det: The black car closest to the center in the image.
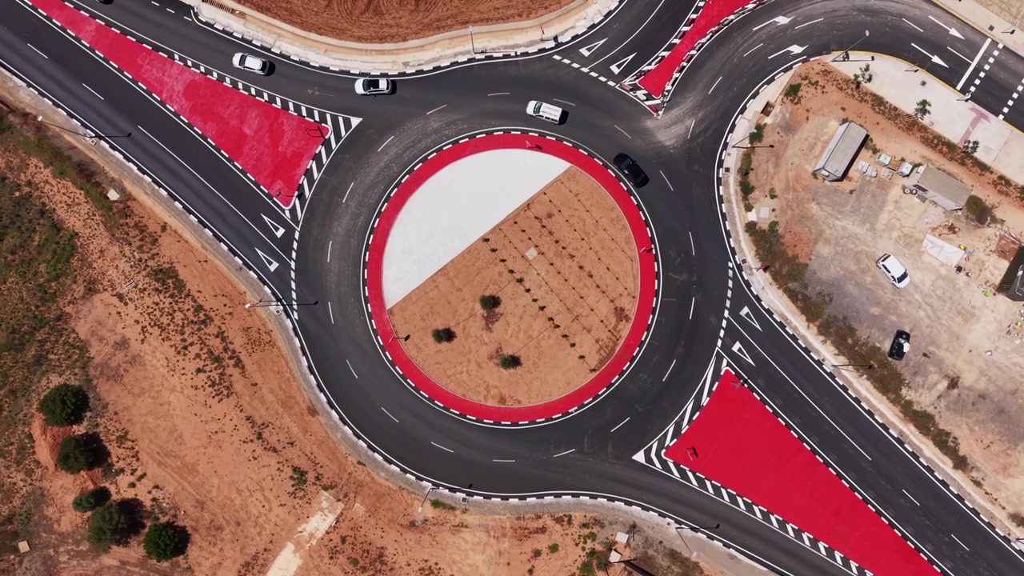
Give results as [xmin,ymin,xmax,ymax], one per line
[616,153,649,189]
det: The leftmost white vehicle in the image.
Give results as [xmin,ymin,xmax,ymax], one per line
[232,52,272,76]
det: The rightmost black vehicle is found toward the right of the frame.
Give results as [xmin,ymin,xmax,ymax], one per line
[886,329,910,362]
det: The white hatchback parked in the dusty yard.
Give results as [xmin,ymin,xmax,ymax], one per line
[877,254,908,287]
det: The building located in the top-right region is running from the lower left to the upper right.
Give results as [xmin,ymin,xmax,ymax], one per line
[814,123,867,180]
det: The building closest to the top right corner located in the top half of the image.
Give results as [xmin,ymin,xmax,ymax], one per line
[905,165,972,210]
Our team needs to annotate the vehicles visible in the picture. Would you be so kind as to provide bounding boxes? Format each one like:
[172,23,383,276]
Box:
[616,153,649,189]
[877,254,908,287]
[886,329,910,362]
[232,52,272,76]
[526,101,565,125]
[355,76,393,96]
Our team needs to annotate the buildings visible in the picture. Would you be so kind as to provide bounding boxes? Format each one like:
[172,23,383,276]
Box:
[905,165,972,210]
[814,123,867,180]
[997,246,1024,301]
